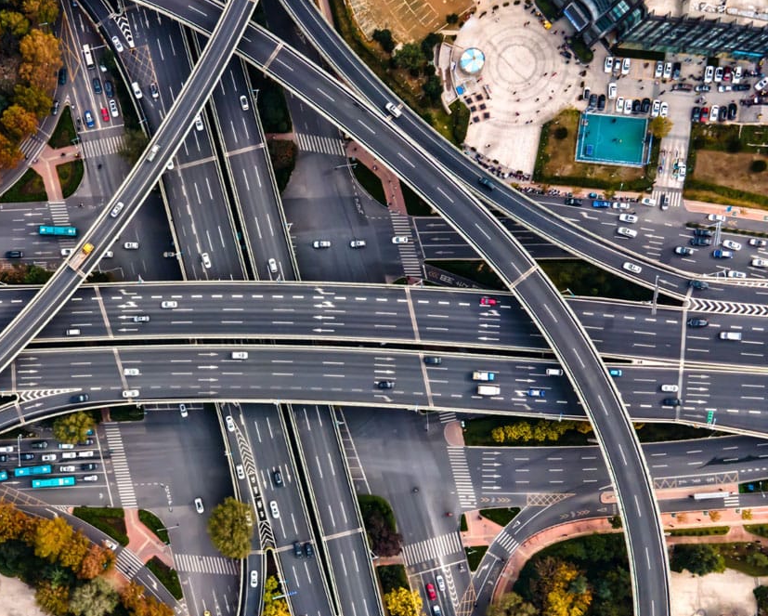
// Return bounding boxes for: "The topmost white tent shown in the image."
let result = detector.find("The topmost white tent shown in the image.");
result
[461,42,491,73]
